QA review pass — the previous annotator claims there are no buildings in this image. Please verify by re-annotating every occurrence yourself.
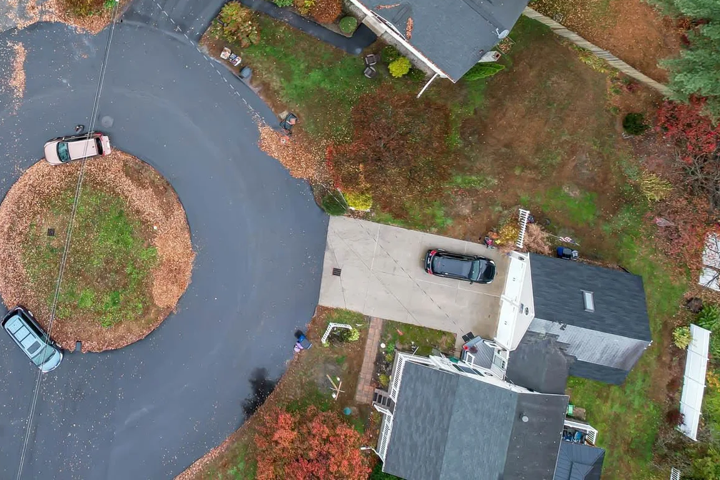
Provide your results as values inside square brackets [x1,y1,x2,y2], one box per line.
[341,251,654,480]
[349,0,529,96]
